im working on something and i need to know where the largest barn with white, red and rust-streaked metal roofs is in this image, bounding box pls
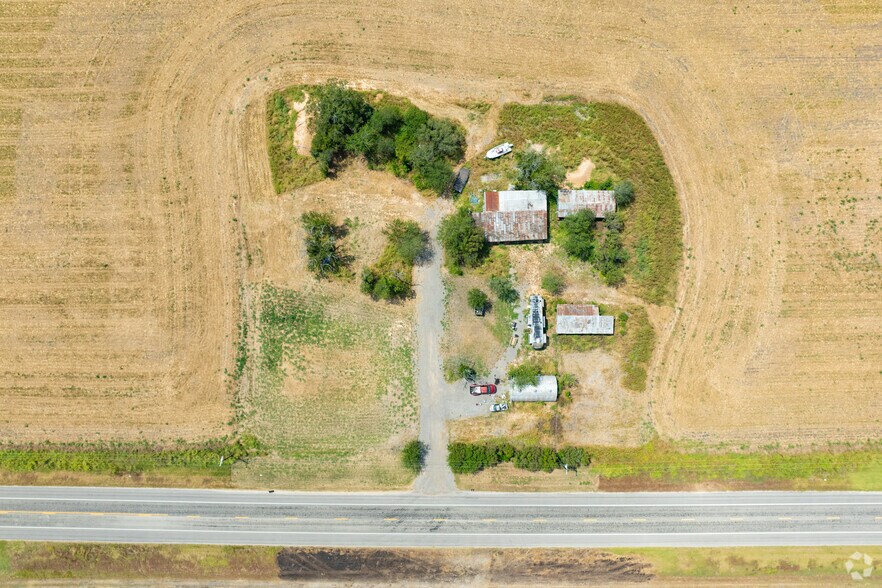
[472,190,547,242]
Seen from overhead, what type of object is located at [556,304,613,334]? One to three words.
shed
